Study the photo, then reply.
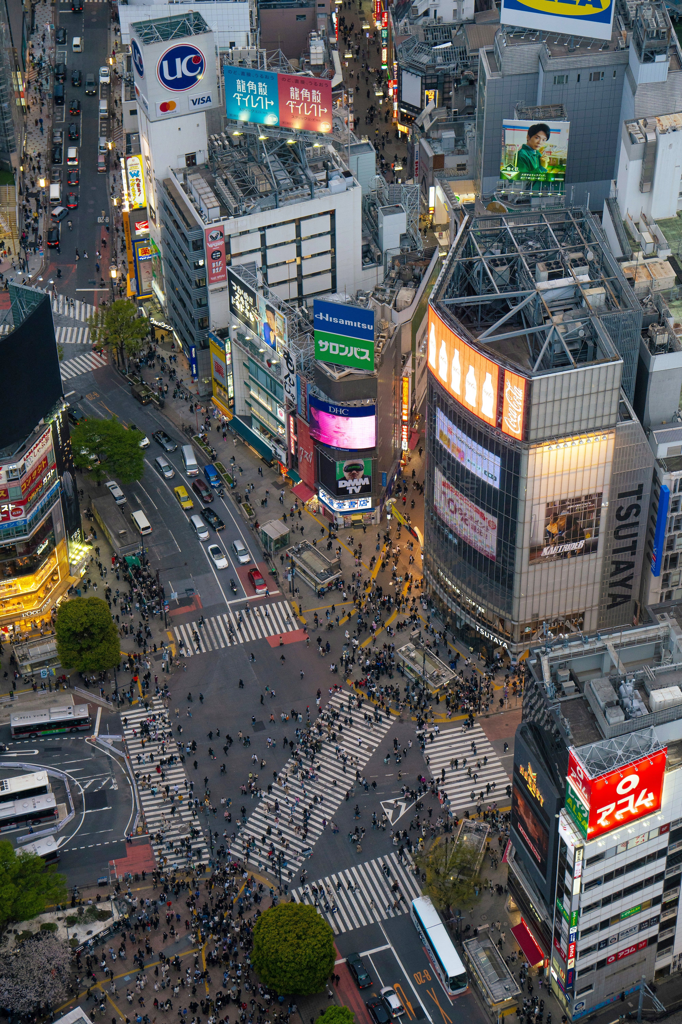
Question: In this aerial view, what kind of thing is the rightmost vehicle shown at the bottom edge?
bus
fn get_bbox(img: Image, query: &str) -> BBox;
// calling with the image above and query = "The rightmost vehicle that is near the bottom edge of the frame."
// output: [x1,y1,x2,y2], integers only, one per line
[411,896,469,992]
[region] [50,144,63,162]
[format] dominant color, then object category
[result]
black vehicle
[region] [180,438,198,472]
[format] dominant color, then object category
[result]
gray vehicle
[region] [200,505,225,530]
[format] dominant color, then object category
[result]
black car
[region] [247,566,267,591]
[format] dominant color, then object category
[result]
red car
